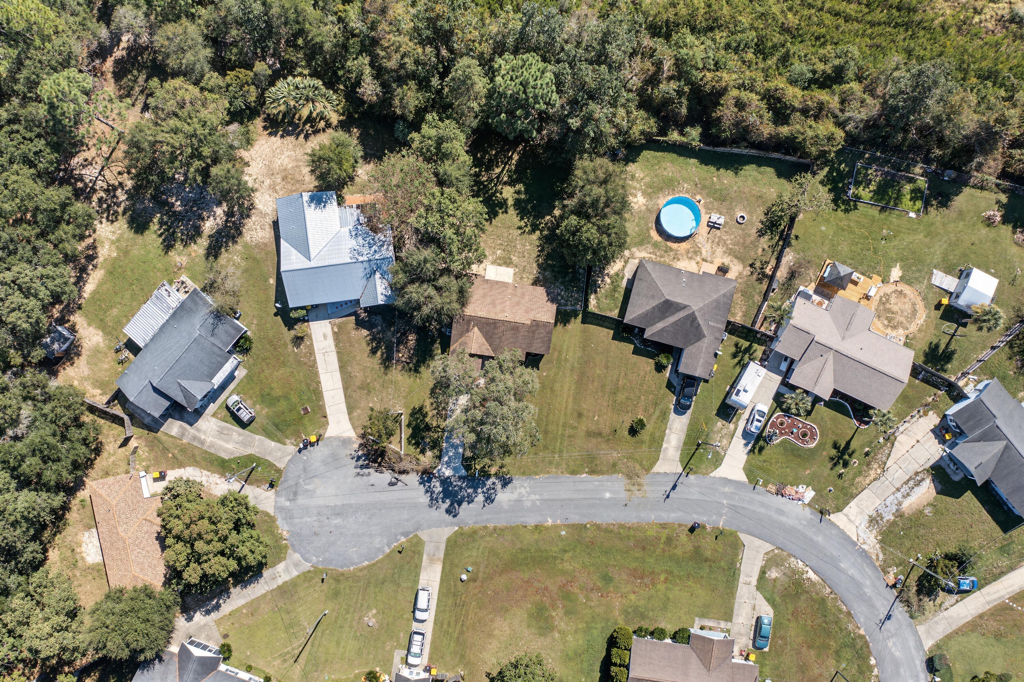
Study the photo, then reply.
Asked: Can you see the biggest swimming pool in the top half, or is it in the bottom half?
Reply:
top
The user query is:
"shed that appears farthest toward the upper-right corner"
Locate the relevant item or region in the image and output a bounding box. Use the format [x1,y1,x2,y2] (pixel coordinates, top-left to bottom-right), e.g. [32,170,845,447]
[948,267,999,315]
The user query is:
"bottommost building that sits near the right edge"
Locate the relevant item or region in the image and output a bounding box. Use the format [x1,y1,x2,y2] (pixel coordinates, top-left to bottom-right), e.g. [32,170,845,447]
[942,377,1024,530]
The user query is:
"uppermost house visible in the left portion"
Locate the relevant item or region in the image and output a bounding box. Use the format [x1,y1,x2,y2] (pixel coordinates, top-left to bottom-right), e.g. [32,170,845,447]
[276,191,400,307]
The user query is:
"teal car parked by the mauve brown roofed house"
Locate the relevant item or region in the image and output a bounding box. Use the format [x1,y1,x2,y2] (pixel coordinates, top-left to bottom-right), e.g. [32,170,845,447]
[755,616,774,652]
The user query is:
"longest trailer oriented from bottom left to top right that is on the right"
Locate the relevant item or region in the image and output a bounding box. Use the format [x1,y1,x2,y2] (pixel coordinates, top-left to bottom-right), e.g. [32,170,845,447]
[723,360,767,414]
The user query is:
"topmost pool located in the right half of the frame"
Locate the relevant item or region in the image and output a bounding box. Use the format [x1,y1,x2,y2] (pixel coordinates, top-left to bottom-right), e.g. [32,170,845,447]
[657,195,702,241]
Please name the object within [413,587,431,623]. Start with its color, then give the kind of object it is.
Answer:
white car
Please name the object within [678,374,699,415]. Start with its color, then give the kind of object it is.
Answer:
black truck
